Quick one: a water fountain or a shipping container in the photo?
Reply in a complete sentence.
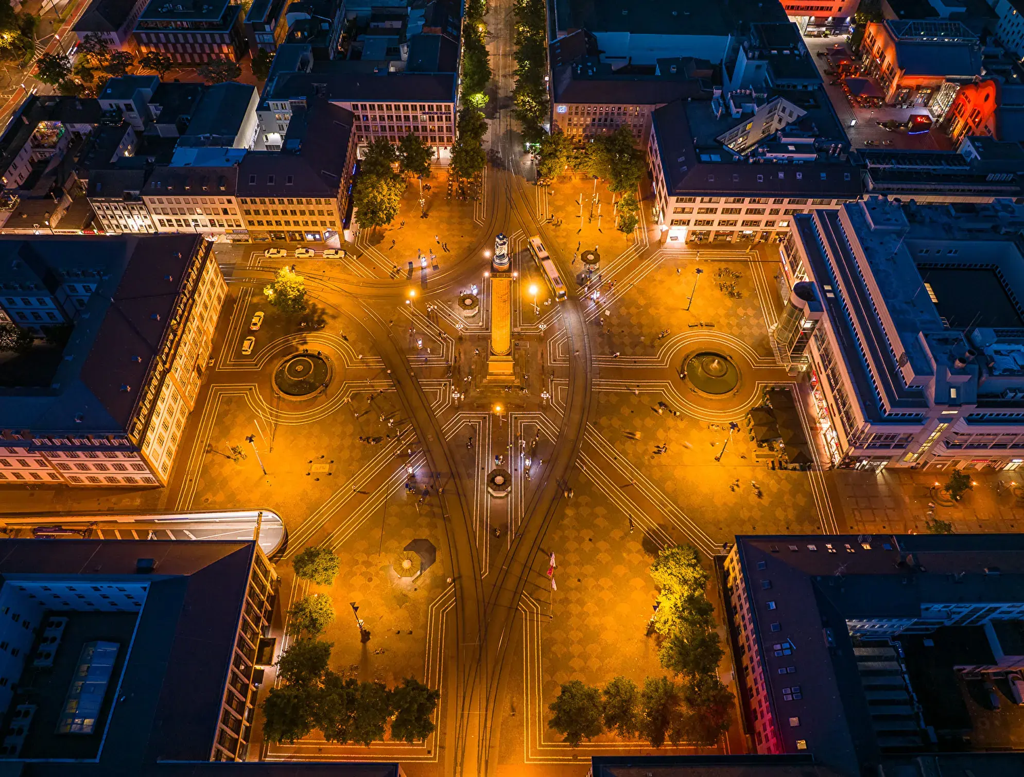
Visible in the photo is a water fountain.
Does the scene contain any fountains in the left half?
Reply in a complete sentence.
Yes, a fountain is visible in the left half.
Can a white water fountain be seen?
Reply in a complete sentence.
No, the picture doesn't show any white water fountain.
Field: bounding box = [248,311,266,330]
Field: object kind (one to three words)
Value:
car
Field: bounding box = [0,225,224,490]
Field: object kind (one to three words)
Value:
building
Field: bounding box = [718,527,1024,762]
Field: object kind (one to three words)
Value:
house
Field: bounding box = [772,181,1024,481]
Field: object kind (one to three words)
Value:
building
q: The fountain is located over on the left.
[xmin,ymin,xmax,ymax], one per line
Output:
[269,347,336,402]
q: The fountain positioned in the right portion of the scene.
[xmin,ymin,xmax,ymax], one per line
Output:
[680,346,747,401]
